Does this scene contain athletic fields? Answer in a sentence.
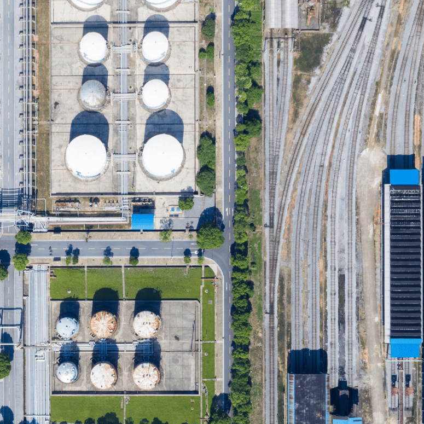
No, the photo shows no athletic field.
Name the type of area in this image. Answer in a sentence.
What you see here is an industrial area.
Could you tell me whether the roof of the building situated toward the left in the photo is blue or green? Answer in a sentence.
From above, the roof of the building situated toward the left appears blue.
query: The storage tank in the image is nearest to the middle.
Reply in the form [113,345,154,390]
[140,134,184,179]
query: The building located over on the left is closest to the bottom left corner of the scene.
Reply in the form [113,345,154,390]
[131,209,154,230]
